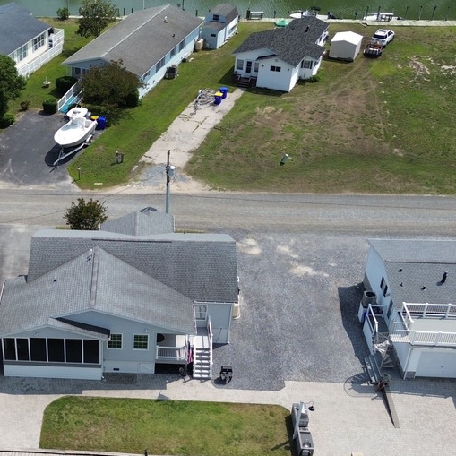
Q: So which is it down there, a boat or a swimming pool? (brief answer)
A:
boat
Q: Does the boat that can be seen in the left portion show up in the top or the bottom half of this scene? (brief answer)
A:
top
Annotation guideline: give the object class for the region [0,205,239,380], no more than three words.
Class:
house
